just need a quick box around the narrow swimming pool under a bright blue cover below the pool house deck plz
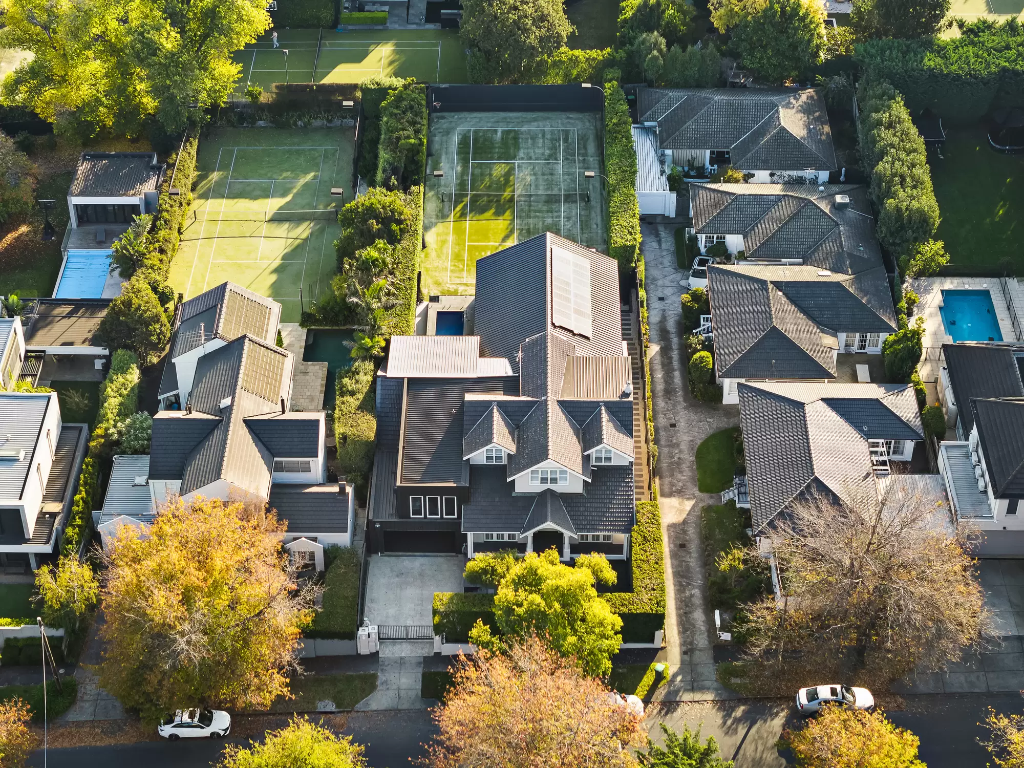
[42,221,133,298]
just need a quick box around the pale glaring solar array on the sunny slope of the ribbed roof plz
[553,244,590,336]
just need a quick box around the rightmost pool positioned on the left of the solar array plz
[427,296,475,334]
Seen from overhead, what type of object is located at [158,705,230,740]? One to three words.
car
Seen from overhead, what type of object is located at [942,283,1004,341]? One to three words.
swimming pool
